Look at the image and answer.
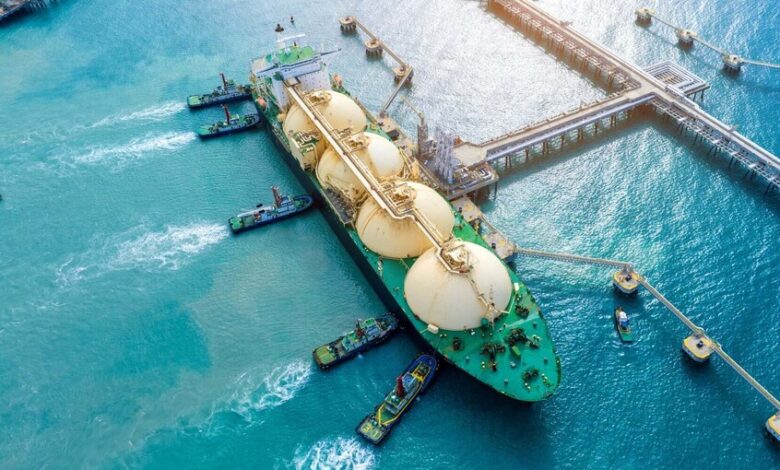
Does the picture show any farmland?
No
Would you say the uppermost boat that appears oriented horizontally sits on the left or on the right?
left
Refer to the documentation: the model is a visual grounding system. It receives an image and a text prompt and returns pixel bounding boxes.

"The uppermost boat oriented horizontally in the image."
[186,76,251,110]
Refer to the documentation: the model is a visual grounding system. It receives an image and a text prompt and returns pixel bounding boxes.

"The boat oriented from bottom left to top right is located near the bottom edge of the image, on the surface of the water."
[353,356,440,447]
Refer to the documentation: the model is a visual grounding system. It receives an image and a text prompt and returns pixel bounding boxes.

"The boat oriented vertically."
[617,309,631,343]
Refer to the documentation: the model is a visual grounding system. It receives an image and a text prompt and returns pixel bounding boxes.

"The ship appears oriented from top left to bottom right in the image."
[246,30,560,395]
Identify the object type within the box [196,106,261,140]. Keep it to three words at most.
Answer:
boat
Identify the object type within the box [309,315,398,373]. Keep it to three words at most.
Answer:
boat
